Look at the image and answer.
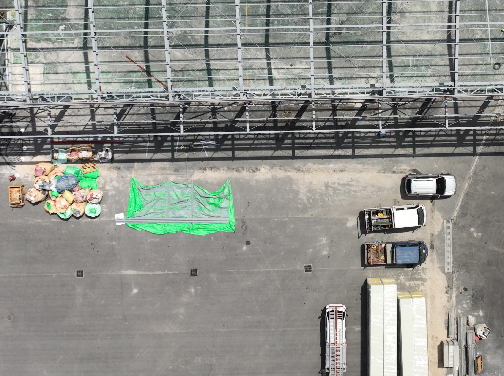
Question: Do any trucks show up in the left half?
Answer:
No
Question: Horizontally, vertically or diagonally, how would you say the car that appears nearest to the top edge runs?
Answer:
horizontally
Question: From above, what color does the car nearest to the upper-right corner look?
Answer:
white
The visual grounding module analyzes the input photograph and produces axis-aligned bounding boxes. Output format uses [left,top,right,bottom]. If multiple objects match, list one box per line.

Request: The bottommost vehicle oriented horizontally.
[364,239,428,267]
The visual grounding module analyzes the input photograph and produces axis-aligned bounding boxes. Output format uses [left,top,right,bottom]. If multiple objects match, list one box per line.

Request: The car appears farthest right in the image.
[403,172,456,200]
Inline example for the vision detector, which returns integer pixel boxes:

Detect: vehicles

[364,239,428,267]
[322,304,349,376]
[403,172,456,200]
[362,202,427,235]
